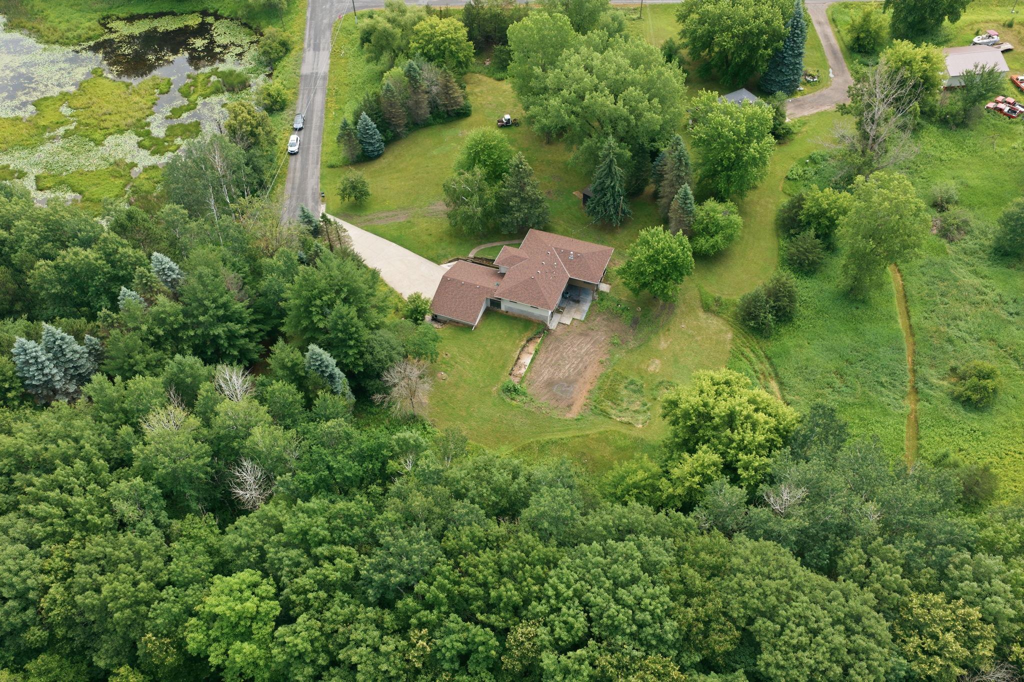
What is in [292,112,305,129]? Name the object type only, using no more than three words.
vehicle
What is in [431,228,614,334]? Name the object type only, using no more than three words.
house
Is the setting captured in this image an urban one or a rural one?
rural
